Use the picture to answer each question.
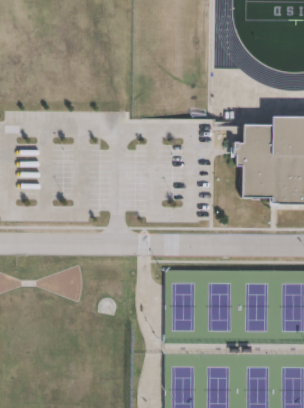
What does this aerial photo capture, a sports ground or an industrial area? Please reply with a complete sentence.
What you see here is a sports ground.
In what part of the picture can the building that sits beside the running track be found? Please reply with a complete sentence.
The building that sits beside the running track is located in the right region of the scene.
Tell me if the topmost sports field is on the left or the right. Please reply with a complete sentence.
The topmost sports field sits on the right side.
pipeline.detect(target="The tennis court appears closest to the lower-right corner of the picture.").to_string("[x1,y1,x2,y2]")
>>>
[282,367,304,408]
